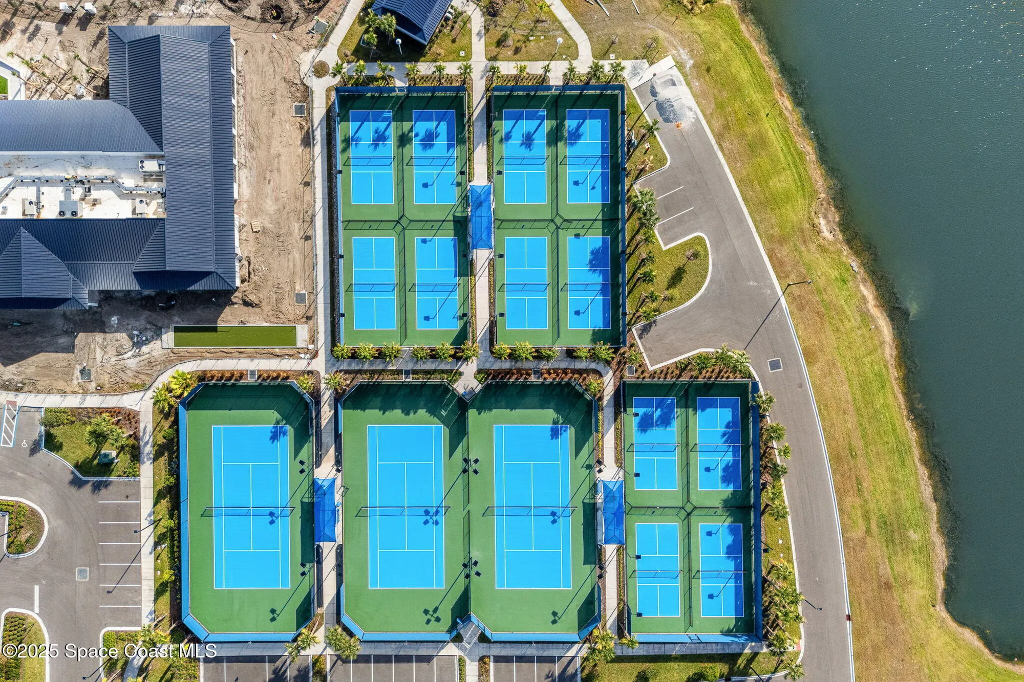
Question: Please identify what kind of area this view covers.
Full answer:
What you see here is a sports ground.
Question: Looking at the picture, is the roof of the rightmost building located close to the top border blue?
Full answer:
Yes, the roof of the rightmost building located close to the top border is blue.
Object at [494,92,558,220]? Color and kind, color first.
blue sports court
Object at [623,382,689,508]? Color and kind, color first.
blue sports court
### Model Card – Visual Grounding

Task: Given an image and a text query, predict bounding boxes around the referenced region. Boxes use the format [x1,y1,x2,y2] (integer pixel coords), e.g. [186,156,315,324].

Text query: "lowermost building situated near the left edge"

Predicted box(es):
[0,25,238,309]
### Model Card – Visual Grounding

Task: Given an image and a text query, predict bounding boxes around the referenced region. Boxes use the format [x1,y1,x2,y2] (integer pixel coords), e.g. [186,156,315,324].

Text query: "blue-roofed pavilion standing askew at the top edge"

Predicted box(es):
[371,0,455,47]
